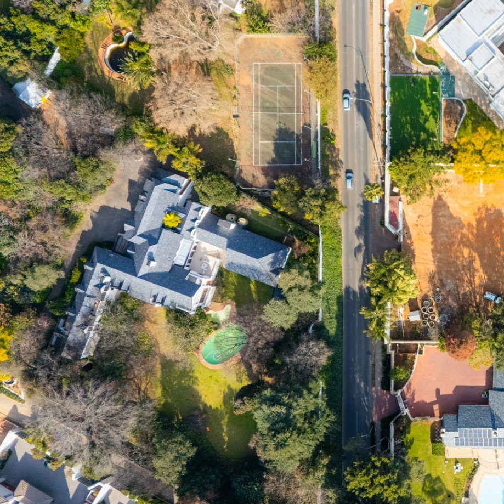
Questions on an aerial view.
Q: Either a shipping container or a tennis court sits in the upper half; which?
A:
tennis court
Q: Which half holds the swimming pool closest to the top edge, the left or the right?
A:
left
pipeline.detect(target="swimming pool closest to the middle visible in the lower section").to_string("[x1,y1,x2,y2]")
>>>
[204,301,236,328]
